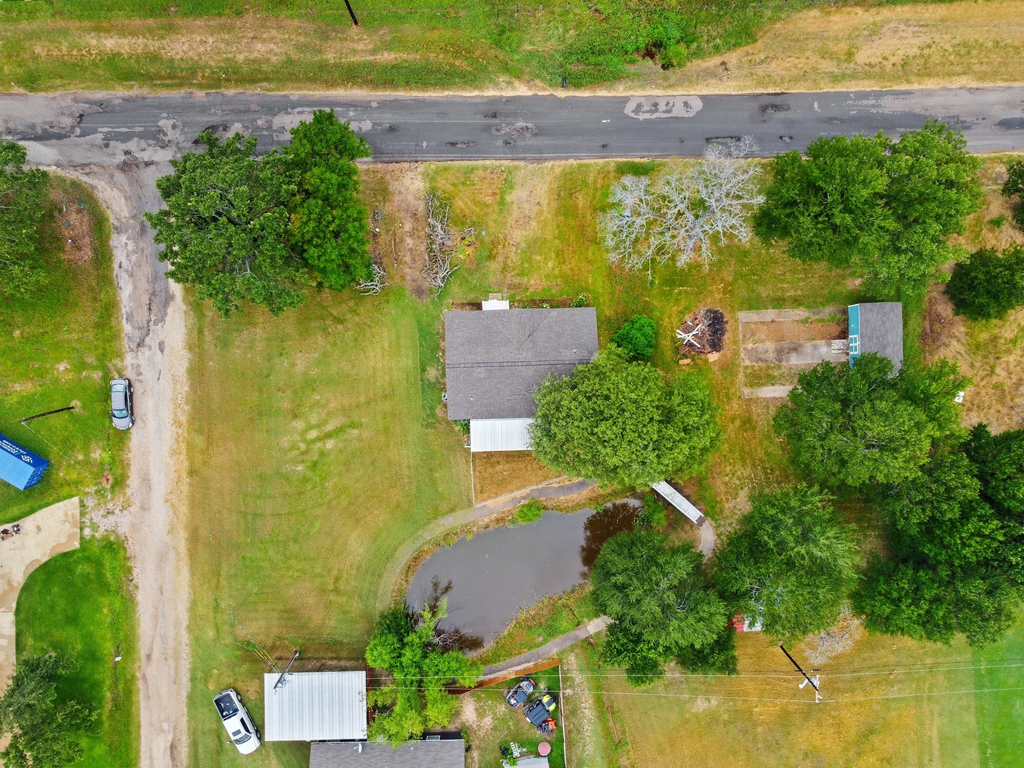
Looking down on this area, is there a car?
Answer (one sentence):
Yes, looking at the shot, I can spot a car.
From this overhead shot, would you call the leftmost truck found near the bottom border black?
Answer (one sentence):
No, the leftmost truck found near the bottom border is actually white.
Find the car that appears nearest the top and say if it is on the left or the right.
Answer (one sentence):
The car that appears nearest the top appears in the left half of the scene.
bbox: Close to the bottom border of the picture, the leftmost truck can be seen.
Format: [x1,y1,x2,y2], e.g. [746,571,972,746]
[212,691,261,757]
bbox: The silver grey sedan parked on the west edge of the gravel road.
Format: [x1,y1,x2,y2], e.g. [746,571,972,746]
[108,377,136,430]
